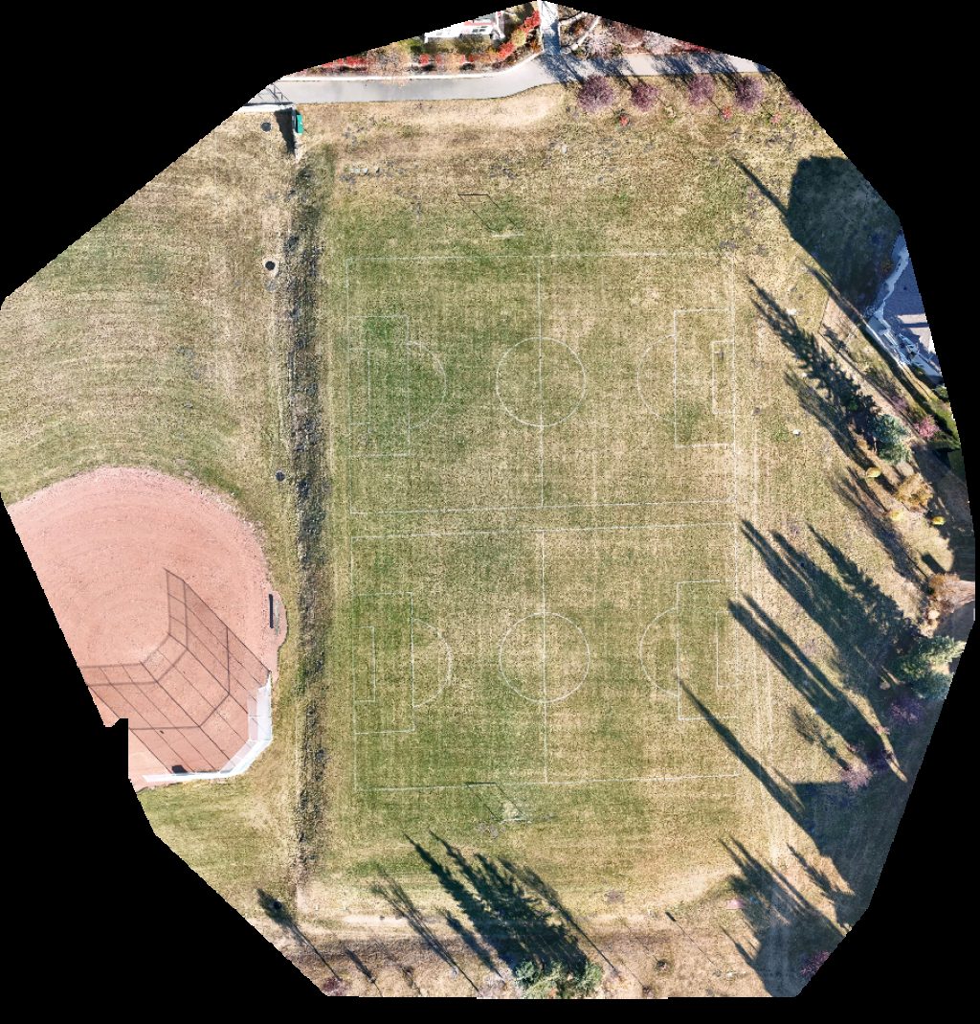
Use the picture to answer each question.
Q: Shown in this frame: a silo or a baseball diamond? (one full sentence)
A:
There is a baseball diamond in the scene.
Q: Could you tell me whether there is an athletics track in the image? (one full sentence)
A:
No, the scene contains no athletics track.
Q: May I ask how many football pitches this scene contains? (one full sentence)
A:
The photo contains 2 football pitches.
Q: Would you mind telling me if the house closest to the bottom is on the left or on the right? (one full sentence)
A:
It is on the right.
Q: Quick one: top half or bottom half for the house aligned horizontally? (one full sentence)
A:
Seen from above, the house aligned horizontally lies in the top half of the view.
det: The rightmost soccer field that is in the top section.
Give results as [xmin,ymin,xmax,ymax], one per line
[344,250,739,516]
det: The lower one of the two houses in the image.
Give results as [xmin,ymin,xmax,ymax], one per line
[862,238,944,375]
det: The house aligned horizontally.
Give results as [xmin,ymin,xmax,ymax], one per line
[422,11,507,41]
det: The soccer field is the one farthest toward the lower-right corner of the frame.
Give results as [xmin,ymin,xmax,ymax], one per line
[349,521,742,793]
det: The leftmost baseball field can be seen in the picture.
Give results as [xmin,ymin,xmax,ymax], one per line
[7,467,287,791]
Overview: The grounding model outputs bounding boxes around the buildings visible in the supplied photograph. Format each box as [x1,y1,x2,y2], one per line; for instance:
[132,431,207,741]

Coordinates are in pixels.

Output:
[422,11,507,41]
[862,238,944,375]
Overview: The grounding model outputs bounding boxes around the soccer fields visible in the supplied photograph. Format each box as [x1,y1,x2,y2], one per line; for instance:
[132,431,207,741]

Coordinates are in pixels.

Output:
[349,521,742,793]
[344,250,739,516]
